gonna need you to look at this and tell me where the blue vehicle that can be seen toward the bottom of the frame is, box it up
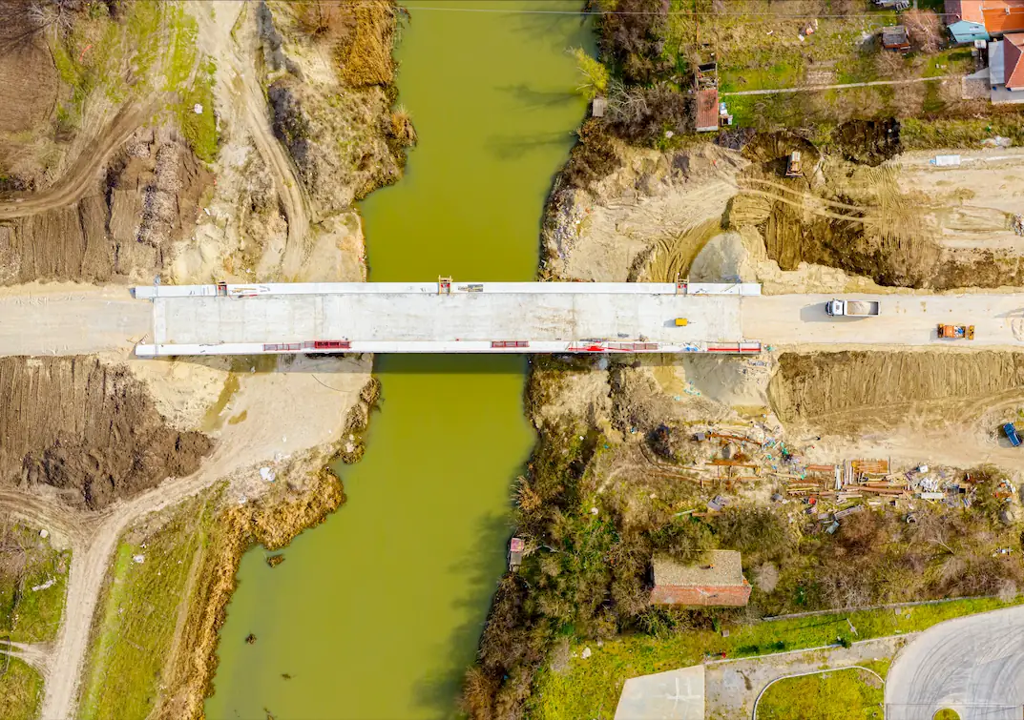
[999,421,1023,448]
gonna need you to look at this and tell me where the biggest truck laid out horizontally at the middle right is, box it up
[819,297,881,319]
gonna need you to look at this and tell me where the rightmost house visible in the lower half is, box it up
[649,549,752,606]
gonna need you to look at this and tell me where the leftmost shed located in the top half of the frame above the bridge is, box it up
[591,97,607,123]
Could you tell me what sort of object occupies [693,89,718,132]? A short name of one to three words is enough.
shed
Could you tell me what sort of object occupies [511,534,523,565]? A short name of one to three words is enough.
shed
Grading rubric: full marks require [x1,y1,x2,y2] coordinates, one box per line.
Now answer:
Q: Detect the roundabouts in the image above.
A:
[884,606,1024,720]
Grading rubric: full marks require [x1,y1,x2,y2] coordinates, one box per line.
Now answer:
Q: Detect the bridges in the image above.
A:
[135,284,761,355]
